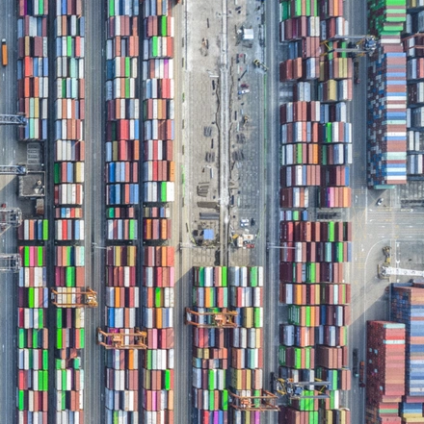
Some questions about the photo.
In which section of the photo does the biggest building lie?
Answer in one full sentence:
The biggest building appears toward the left of the photo.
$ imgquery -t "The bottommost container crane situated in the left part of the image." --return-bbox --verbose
[94,326,148,350]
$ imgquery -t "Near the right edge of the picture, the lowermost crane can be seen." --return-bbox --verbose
[378,263,424,281]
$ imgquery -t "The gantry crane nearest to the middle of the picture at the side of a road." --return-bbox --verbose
[181,306,239,329]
